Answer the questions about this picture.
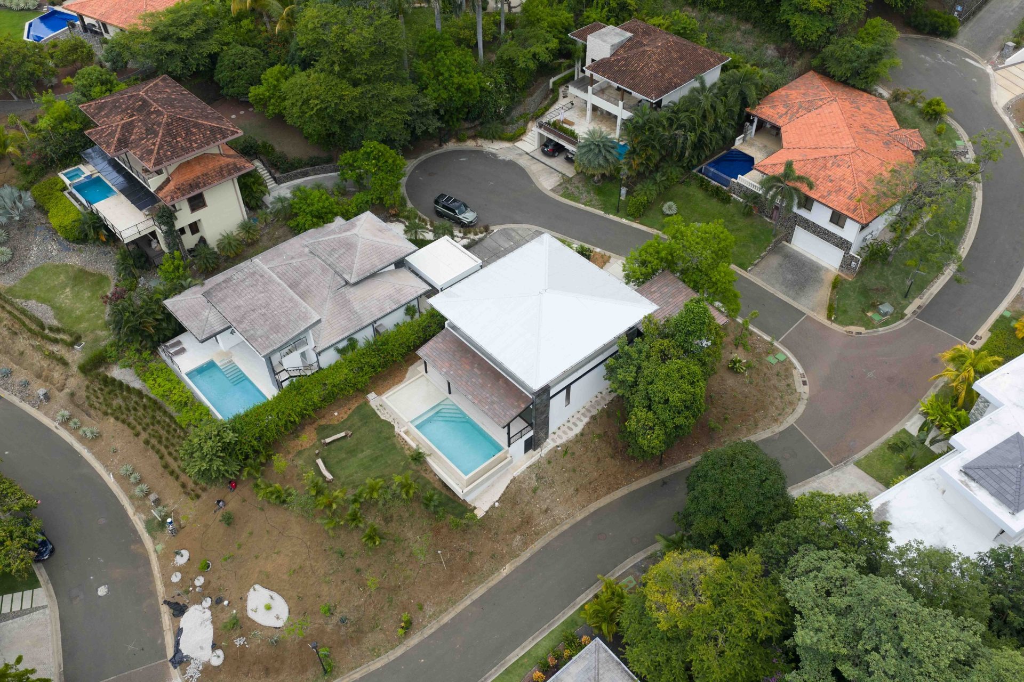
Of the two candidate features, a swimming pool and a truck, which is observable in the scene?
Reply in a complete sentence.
I can see a swimming pool in this picture.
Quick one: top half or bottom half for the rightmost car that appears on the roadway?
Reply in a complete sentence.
The rightmost car that appears on the roadway sits in the top half of the picture.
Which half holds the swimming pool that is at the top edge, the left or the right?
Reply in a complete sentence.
The swimming pool that is at the top edge sits on the left side.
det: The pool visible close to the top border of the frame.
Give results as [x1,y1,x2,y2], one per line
[25,15,75,37]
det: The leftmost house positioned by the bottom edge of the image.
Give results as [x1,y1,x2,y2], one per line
[548,635,644,682]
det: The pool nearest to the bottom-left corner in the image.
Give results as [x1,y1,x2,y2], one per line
[187,353,273,423]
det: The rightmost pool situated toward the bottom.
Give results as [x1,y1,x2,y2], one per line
[412,400,502,474]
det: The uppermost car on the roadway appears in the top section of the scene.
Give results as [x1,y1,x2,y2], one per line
[433,188,481,224]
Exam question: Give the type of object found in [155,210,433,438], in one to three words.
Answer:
house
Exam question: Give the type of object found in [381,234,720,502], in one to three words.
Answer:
house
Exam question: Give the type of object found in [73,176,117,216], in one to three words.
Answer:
swimming pool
